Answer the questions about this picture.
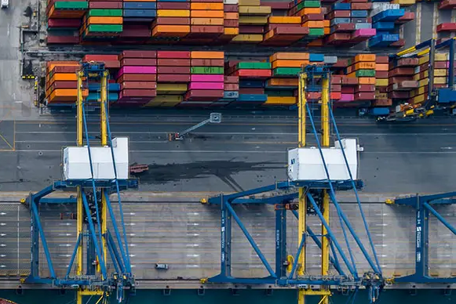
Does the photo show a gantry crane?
Yes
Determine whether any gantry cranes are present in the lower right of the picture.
Yes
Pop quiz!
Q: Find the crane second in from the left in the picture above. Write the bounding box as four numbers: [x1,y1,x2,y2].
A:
[201,54,388,304]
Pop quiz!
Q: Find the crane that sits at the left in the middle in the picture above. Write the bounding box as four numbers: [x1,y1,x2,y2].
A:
[18,52,136,304]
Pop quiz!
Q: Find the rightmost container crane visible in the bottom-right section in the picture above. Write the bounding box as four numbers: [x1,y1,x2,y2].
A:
[388,189,456,283]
